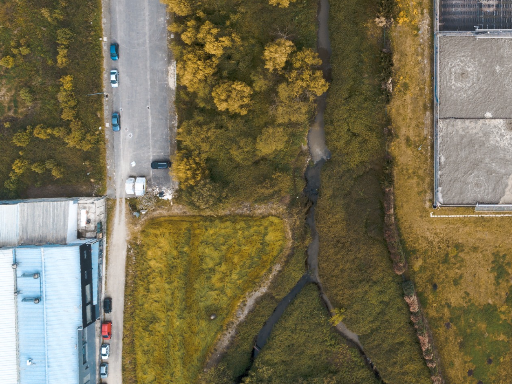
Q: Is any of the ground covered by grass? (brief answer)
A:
Yes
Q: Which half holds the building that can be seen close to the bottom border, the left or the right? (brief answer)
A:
left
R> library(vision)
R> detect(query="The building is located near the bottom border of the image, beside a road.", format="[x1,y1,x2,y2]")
[0,239,99,384]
